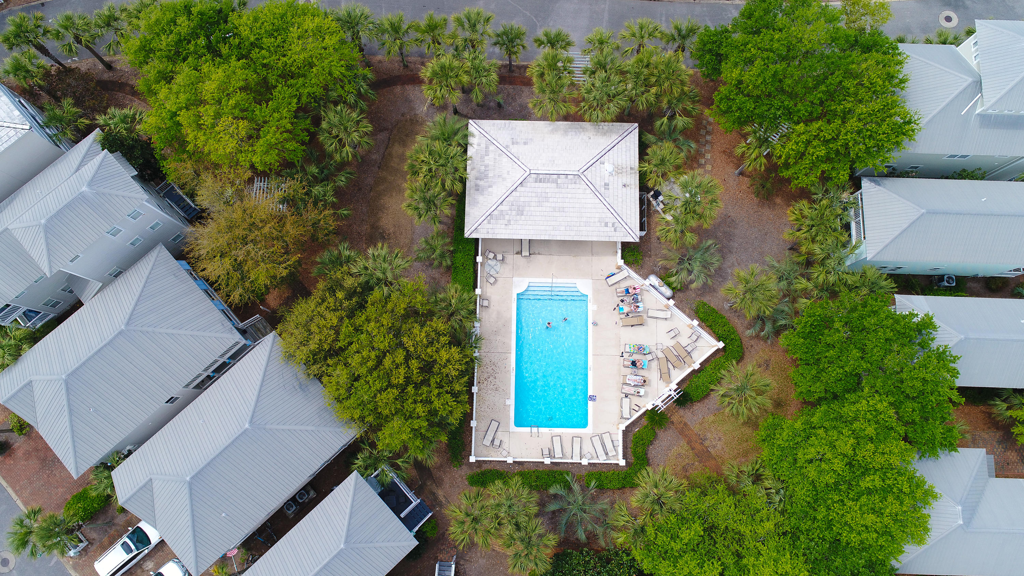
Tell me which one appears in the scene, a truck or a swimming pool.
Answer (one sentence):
Visible in the photo is a swimming pool.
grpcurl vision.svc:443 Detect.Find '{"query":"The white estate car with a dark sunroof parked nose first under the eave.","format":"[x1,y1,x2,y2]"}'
[94,520,164,576]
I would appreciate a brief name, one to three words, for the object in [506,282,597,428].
swimming pool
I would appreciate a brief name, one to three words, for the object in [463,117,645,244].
building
